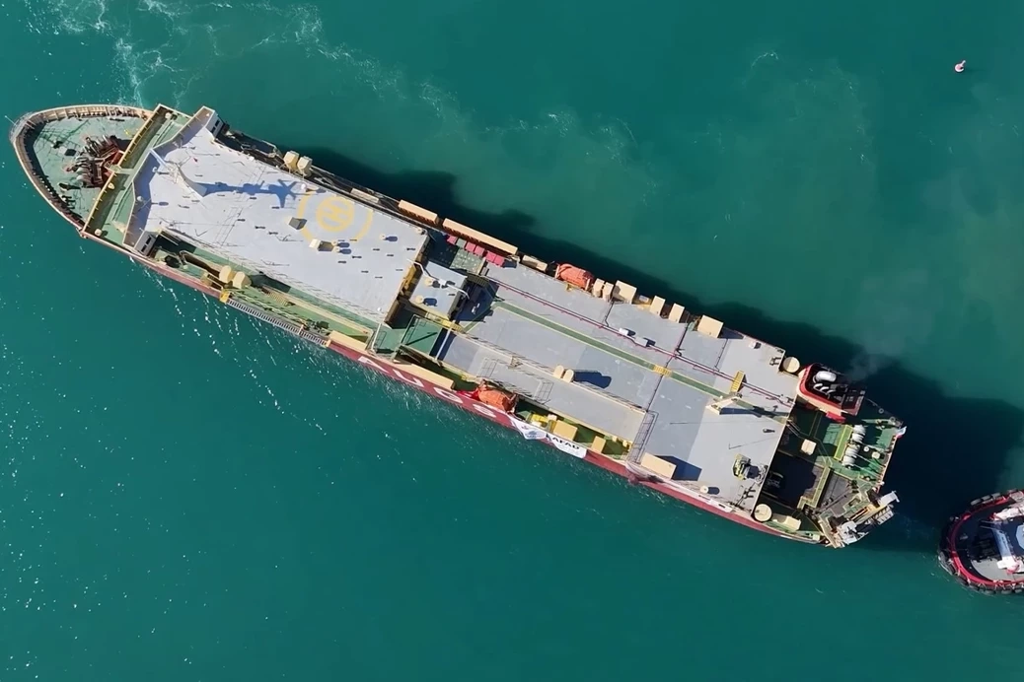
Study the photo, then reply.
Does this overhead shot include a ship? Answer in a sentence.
Yes, there's a ship down there.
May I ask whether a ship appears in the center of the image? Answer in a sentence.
Yes, I can see a ship in the center of the image.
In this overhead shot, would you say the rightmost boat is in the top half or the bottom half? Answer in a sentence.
The bottom half of the photo is where the rightmost boat is.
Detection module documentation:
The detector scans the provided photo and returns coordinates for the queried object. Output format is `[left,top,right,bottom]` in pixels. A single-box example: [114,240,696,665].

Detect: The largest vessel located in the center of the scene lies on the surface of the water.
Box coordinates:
[2,105,912,550]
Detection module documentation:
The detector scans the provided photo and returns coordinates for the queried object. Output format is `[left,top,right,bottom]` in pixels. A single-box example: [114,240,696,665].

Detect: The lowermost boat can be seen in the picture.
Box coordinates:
[938,486,1024,593]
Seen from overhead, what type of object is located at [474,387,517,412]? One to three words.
boat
